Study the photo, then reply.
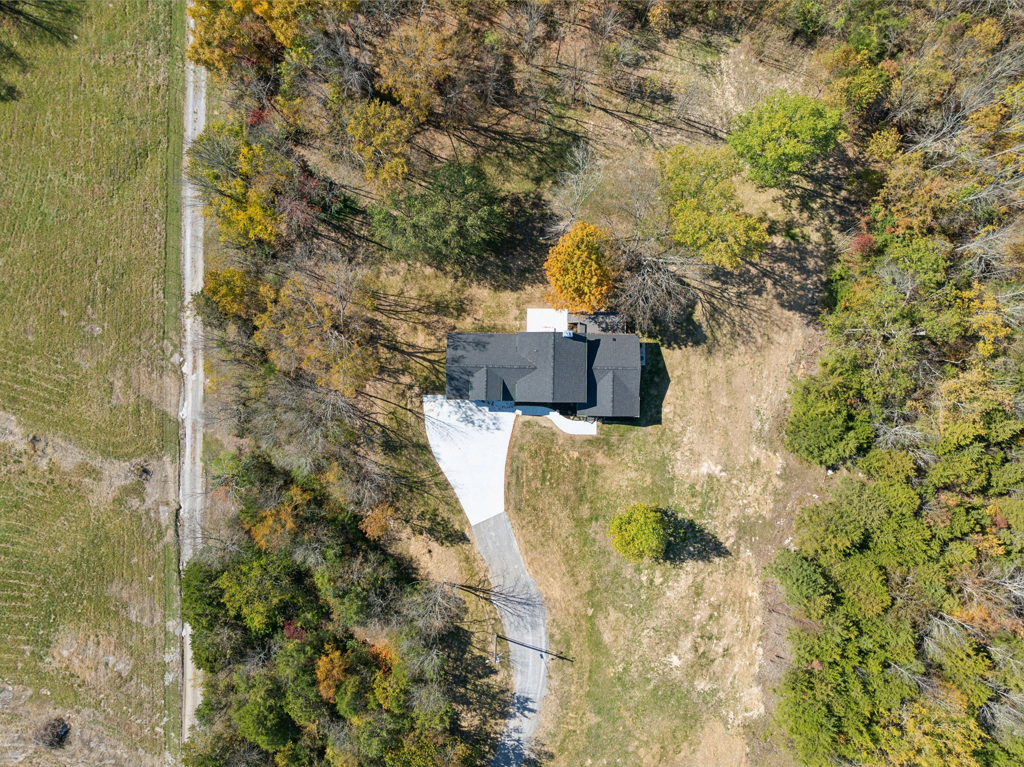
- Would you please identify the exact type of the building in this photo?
home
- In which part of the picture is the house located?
center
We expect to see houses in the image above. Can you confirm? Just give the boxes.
[445,311,641,422]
